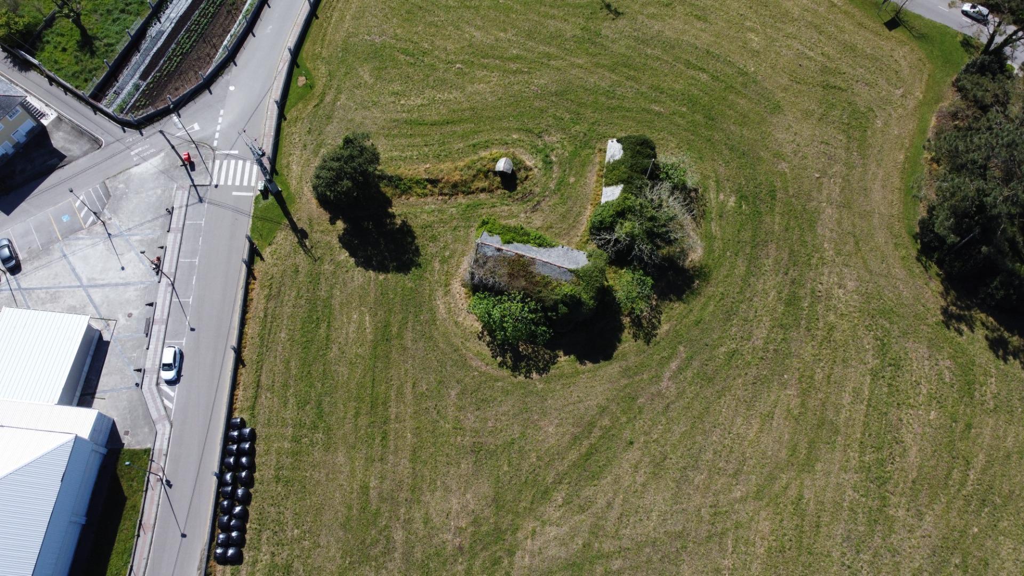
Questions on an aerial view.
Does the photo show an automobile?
Yes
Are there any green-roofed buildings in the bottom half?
No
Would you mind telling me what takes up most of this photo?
grass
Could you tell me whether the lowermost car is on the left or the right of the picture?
left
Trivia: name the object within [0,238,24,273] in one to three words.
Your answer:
car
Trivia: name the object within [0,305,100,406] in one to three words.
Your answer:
shed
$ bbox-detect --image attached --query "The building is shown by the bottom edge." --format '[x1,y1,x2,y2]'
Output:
[0,425,108,576]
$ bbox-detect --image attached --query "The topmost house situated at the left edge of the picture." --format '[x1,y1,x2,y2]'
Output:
[0,82,47,173]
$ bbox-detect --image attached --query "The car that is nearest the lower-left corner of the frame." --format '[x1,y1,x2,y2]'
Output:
[160,347,185,384]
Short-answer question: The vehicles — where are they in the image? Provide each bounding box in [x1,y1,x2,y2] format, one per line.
[0,238,24,273]
[960,4,995,27]
[160,347,185,384]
